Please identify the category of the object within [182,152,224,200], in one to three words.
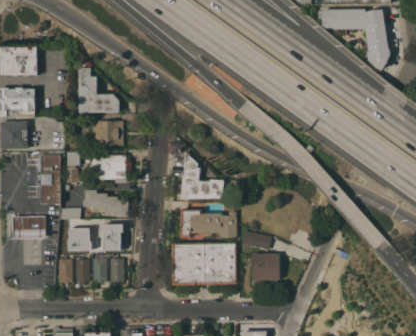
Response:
building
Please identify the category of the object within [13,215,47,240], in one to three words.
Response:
building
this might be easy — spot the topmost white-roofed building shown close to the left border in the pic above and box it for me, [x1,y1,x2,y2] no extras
[0,47,38,76]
